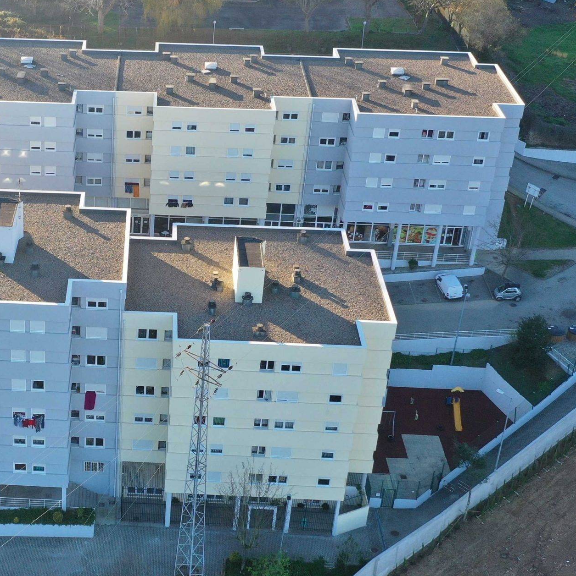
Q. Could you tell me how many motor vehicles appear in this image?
2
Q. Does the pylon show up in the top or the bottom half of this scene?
bottom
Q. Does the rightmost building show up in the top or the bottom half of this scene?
top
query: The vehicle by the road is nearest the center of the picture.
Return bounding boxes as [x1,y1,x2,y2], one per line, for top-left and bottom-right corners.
[436,273,465,298]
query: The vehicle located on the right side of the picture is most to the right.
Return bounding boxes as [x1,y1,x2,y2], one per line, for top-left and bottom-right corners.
[493,281,522,301]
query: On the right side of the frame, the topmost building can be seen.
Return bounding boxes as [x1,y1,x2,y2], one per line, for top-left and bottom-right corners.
[298,48,524,262]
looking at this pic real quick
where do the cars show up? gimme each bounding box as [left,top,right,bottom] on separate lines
[436,273,465,298]
[493,281,522,301]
